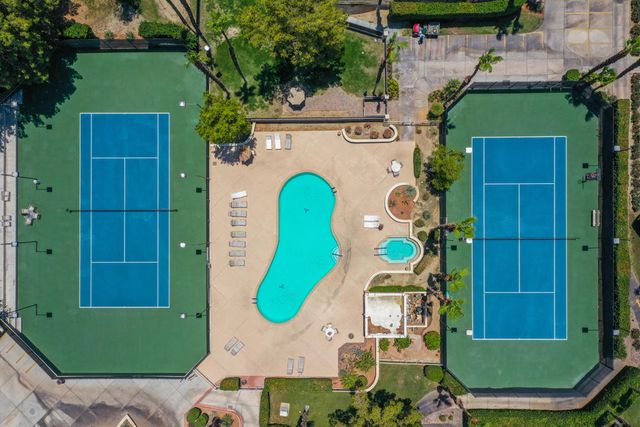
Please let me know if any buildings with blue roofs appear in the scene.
No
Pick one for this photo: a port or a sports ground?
sports ground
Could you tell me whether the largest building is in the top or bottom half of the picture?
bottom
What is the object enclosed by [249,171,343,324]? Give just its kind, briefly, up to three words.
swimming pool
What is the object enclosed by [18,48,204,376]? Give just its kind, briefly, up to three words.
tennis court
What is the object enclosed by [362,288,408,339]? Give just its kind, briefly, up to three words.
building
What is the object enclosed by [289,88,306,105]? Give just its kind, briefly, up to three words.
umbrella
